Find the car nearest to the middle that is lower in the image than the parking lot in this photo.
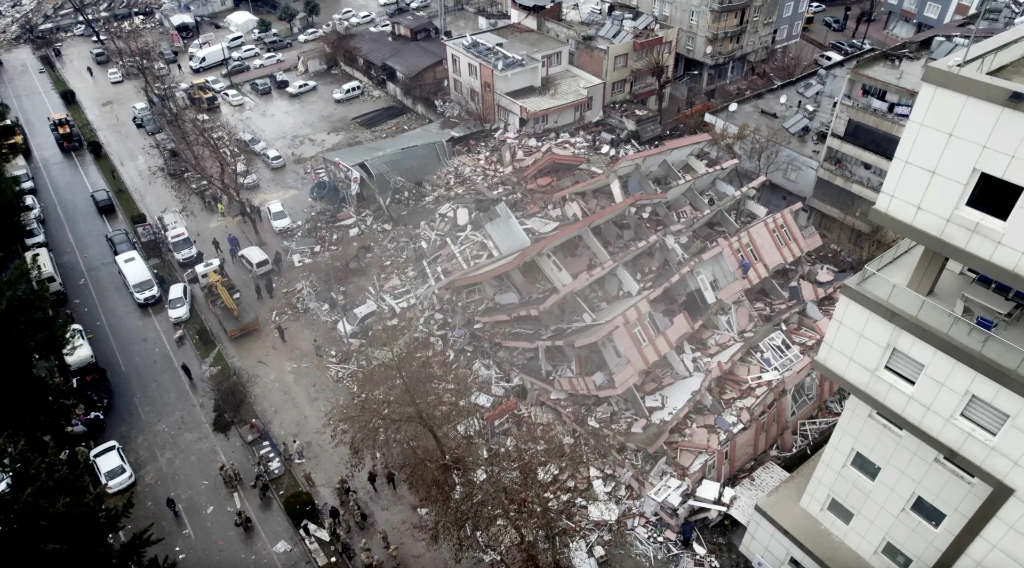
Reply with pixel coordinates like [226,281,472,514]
[333,303,382,346]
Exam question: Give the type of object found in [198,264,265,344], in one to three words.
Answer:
work vehicle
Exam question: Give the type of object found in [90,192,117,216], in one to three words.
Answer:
car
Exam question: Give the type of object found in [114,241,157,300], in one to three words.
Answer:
vehicle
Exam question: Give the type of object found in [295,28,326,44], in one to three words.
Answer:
car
